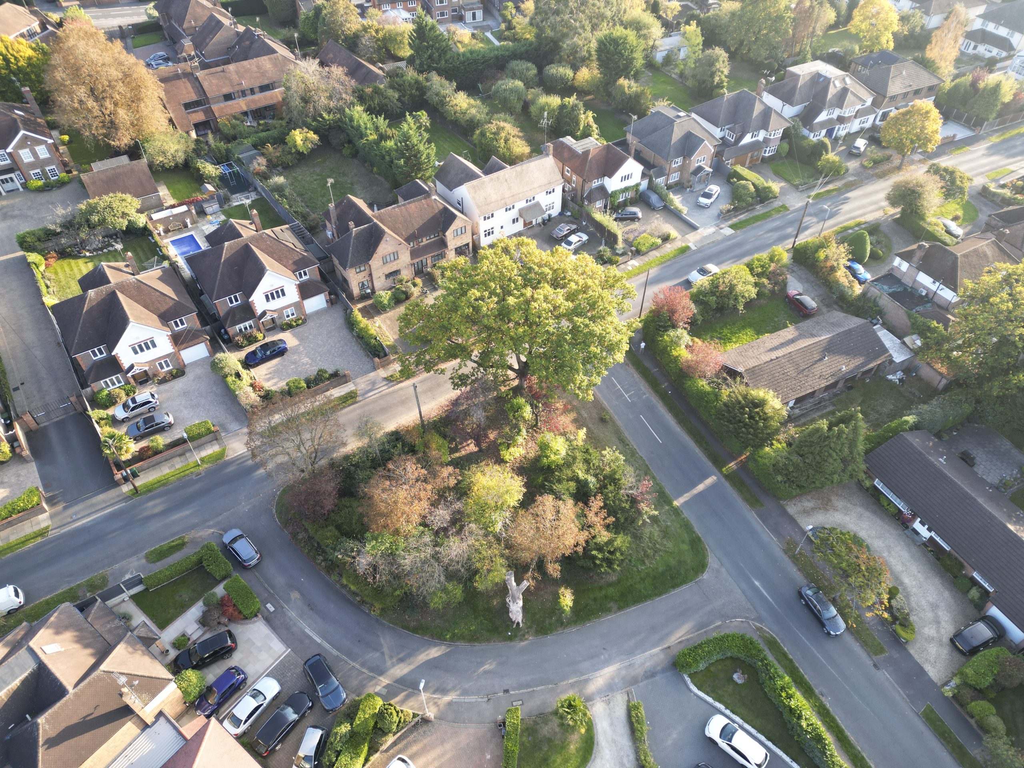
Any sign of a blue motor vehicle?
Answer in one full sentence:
Yes, the photo shows a blue motor vehicle.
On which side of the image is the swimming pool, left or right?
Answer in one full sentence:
It is on the left.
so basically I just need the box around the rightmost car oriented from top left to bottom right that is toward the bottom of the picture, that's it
[796,581,848,639]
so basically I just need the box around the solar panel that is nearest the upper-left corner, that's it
[276,228,307,250]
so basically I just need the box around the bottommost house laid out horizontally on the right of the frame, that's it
[723,312,922,411]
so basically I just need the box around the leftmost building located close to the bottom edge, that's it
[0,598,189,768]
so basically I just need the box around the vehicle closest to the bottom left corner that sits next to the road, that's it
[0,586,30,618]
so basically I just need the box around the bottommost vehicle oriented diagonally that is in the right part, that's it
[701,711,770,768]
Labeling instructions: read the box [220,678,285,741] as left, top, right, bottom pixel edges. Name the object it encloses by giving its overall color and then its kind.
white car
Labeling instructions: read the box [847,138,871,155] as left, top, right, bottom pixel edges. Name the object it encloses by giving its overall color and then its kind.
white car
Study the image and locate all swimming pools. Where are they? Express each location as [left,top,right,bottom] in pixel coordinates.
[168,233,205,257]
